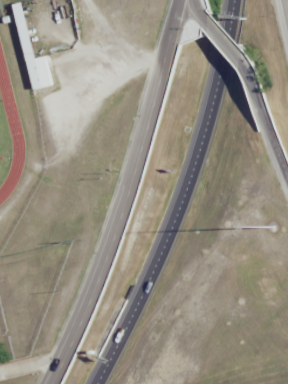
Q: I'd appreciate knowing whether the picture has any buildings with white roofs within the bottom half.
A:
No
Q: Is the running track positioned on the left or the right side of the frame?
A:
left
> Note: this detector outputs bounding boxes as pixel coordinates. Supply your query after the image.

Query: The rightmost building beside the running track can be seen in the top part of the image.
[12,2,55,89]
